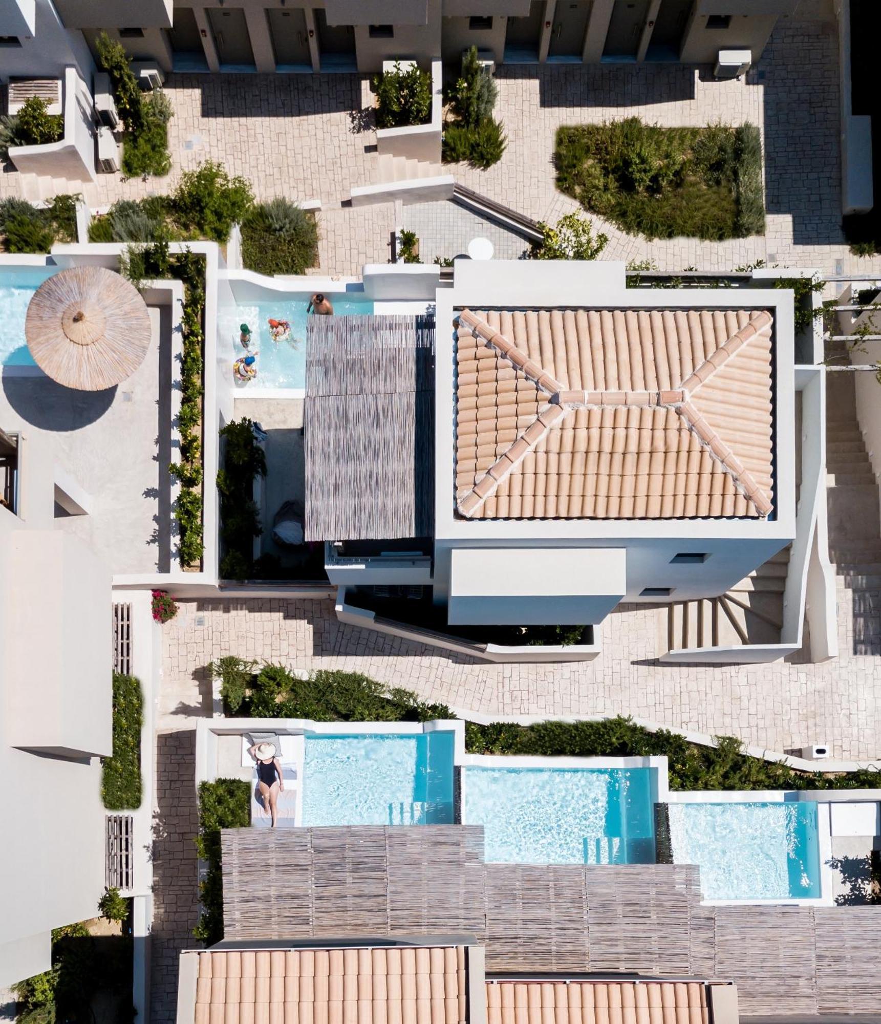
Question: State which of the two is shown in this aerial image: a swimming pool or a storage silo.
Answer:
swimming pool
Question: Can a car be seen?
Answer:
No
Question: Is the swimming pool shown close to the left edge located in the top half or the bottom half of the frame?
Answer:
top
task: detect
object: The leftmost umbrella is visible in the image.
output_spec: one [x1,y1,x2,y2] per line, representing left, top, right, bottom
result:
[26,266,151,391]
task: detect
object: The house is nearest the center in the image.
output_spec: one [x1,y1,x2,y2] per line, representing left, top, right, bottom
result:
[435,261,794,626]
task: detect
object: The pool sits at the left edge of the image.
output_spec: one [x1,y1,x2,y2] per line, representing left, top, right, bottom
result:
[0,295,40,366]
